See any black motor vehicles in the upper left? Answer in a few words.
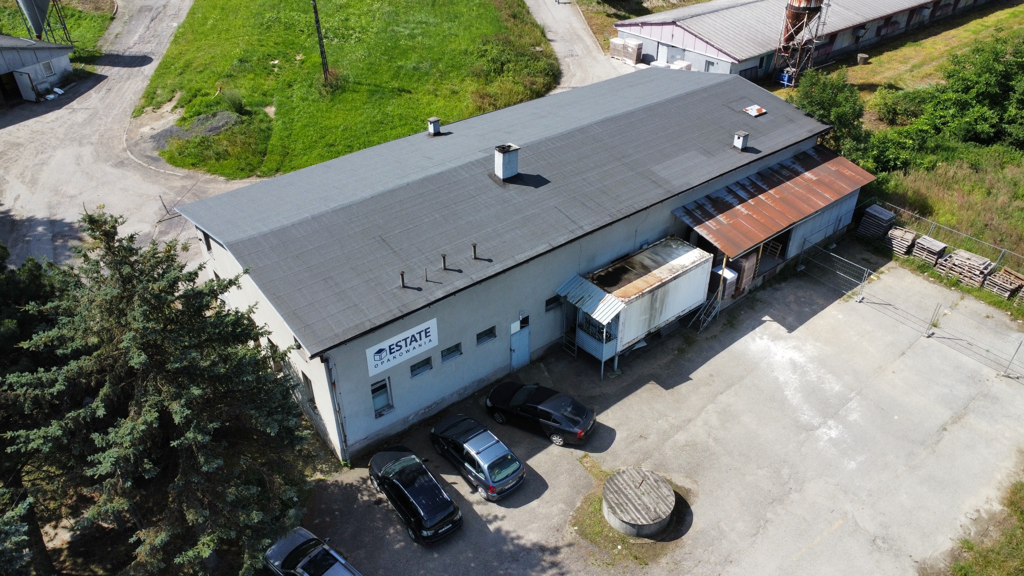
No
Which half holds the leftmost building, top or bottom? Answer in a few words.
top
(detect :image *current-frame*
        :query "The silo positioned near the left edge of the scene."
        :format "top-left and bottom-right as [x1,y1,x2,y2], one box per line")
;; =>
[15,0,74,50]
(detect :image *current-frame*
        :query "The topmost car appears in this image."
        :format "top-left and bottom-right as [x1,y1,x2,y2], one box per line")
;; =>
[482,381,600,447]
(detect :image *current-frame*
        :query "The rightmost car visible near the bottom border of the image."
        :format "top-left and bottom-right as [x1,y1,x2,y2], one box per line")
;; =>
[366,442,472,554]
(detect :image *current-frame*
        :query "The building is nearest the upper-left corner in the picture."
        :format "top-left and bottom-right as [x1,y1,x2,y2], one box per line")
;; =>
[0,37,80,114]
